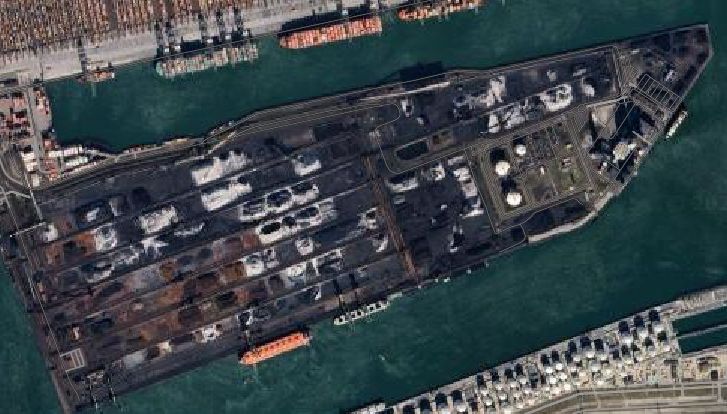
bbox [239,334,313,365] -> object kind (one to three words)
ship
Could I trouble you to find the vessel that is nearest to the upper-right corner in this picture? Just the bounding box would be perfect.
[665,111,689,140]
